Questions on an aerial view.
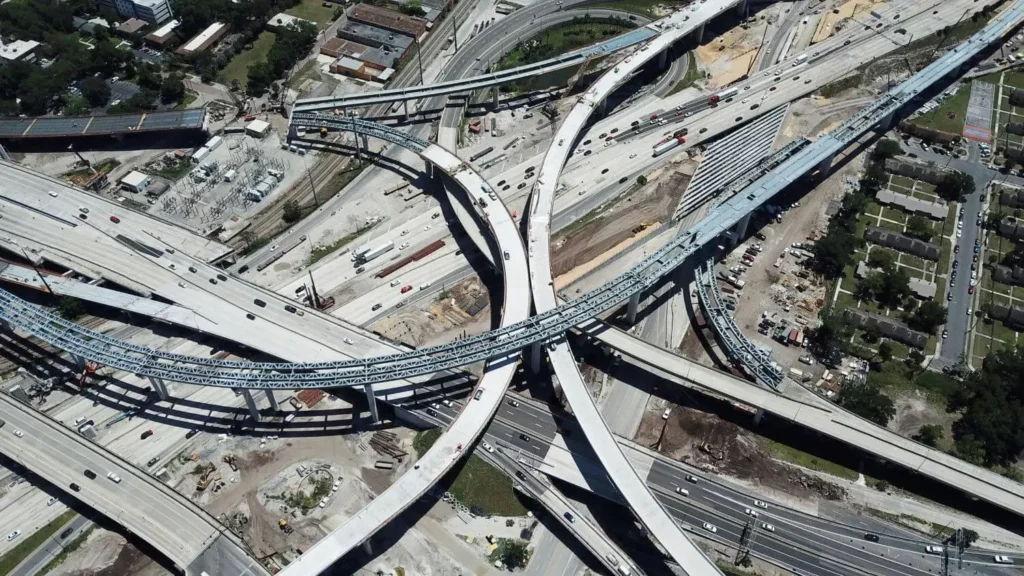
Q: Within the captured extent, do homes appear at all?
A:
Yes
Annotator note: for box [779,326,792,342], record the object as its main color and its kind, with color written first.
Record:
gray vehicle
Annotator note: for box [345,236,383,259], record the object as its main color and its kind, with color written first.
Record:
white truck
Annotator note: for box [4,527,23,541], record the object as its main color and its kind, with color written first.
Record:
white car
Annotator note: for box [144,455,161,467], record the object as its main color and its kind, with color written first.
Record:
gray vehicle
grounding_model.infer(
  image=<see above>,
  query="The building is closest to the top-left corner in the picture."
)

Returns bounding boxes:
[0,37,44,69]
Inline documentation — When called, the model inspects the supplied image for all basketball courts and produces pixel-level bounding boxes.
[969,77,995,106]
[965,99,993,129]
[962,122,991,141]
